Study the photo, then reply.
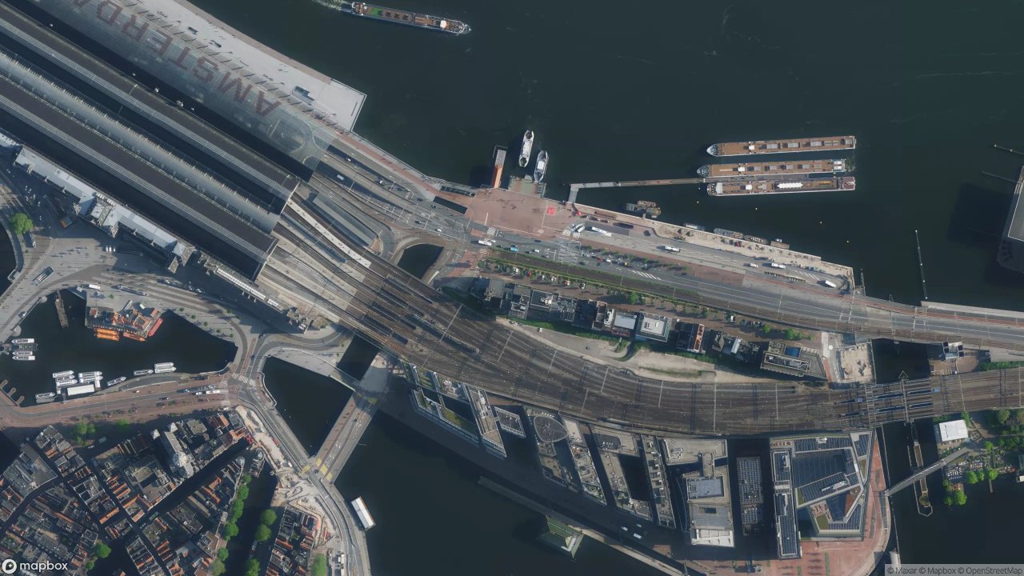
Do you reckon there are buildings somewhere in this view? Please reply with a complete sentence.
Yes, there is a building in the image.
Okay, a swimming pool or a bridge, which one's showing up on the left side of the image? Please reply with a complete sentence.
The one visible on the left side of the image is a bridge.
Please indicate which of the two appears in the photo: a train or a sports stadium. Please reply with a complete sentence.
The image shows a train.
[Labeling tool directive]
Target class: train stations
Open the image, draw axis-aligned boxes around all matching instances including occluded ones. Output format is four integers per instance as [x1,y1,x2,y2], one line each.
[0,0,376,323]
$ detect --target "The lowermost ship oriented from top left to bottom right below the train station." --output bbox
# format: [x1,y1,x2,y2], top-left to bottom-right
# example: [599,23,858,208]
[351,498,375,527]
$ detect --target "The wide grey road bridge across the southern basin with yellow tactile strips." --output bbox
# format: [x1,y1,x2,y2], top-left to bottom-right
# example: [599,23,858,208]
[309,379,390,483]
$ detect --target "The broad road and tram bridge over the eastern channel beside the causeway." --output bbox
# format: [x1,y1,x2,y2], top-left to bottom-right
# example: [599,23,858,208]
[851,294,930,346]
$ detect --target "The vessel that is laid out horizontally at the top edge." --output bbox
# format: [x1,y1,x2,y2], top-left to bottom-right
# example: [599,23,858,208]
[349,3,471,34]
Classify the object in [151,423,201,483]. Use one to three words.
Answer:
building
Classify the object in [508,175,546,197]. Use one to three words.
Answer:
pier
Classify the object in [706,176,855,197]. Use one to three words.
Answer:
ship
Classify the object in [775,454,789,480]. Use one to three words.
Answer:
solar array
